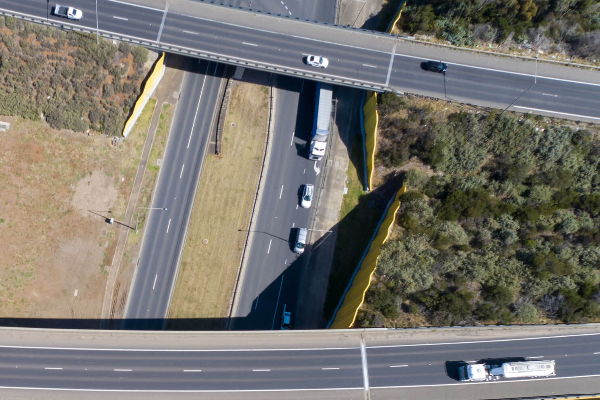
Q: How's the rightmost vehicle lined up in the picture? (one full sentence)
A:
The rightmost vehicle runs horizontally in the image.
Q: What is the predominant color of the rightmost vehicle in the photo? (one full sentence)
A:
In this view, the rightmost vehicle is white.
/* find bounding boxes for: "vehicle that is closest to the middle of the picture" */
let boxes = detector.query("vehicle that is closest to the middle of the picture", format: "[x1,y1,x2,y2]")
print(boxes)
[302,184,314,208]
